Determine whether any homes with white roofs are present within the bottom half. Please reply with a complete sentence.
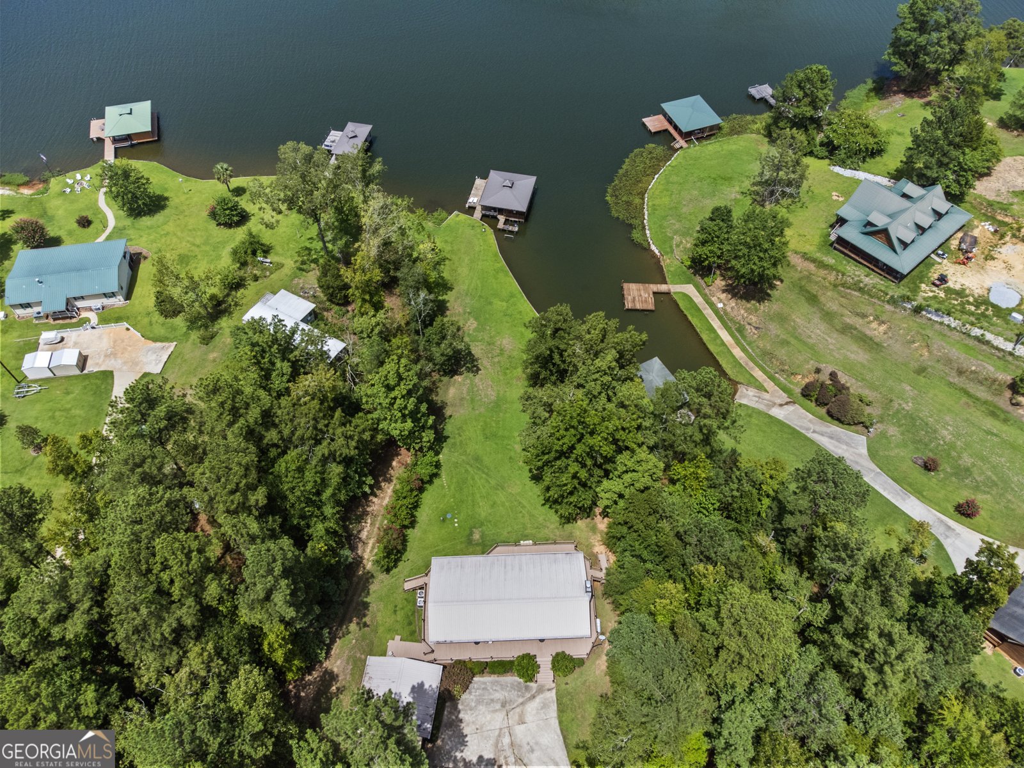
Yes, a home with a white roof is visible within the bottom half.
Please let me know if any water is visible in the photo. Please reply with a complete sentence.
Yes, some water is visible.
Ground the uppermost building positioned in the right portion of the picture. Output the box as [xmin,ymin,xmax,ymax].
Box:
[641,94,723,151]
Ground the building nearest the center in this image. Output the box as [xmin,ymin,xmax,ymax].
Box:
[637,357,671,393]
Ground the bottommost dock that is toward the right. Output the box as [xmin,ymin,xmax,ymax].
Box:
[622,278,672,314]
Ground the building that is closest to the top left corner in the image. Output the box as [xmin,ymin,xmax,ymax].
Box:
[88,100,159,161]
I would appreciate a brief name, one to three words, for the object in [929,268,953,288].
vehicle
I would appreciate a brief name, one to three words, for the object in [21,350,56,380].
shed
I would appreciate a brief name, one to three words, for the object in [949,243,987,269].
work vehicle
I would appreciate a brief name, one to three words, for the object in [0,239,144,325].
house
